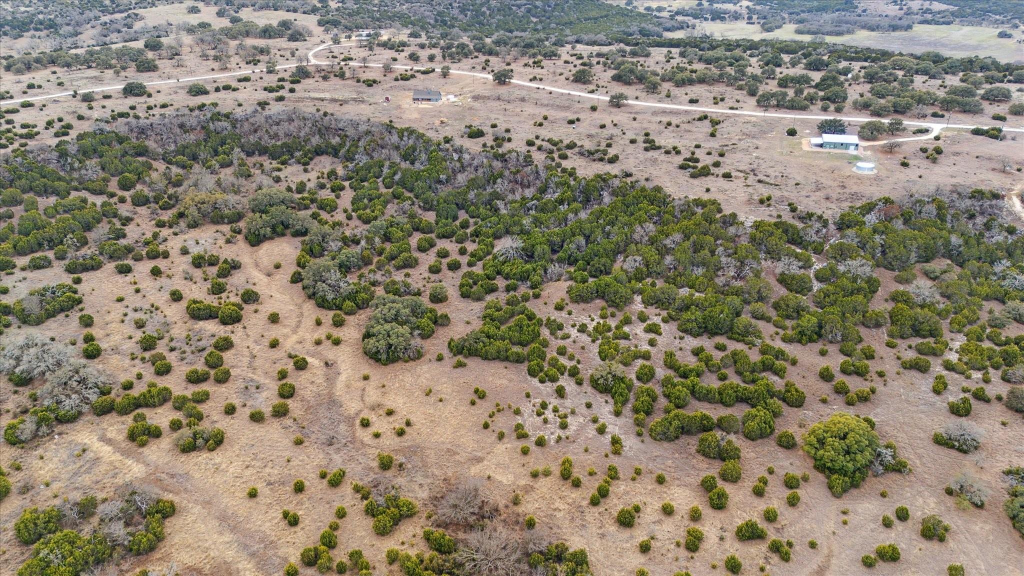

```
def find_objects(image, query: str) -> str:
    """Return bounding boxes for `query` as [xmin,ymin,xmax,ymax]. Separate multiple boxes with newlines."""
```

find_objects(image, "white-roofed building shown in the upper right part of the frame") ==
[807,130,862,153]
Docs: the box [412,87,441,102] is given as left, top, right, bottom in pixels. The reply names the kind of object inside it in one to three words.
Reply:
house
